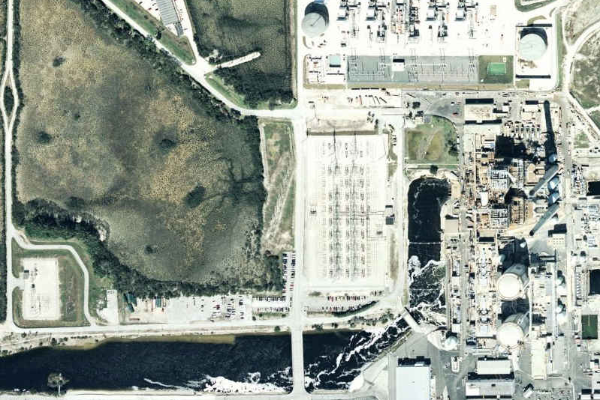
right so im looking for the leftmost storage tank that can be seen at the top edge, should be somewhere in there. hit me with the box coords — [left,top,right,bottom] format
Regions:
[302,8,331,37]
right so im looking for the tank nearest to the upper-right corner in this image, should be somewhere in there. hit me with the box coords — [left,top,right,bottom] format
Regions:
[519,31,548,60]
